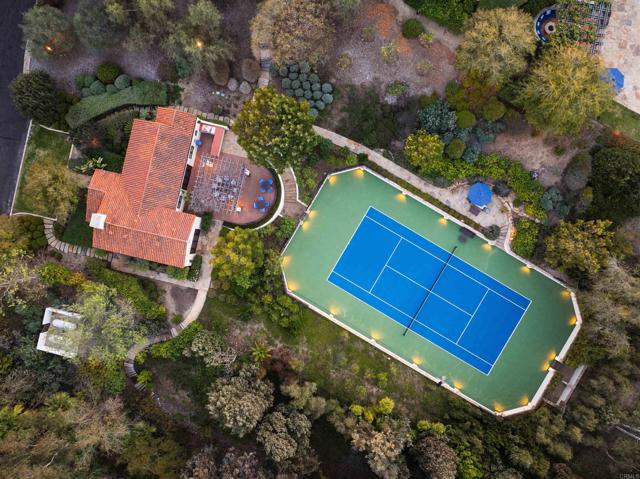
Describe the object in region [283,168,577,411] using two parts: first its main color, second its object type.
green tennis court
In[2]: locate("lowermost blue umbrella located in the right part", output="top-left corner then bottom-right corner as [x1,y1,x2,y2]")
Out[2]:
[466,181,492,207]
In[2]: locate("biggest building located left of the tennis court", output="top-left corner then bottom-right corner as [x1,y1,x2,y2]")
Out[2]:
[86,106,202,268]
